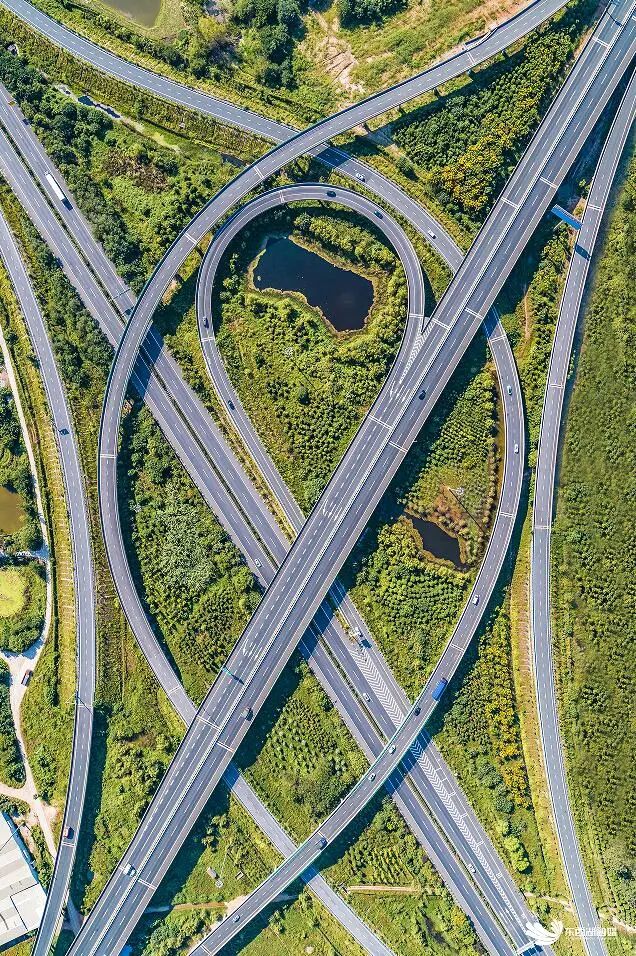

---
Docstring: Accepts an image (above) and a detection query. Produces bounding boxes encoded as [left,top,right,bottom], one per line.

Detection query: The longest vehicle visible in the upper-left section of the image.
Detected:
[43,170,64,200]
